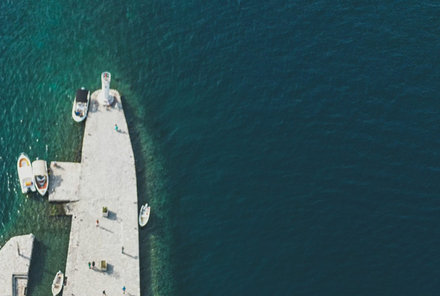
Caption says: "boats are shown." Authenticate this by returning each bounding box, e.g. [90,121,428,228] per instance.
[32,157,48,197]
[52,268,63,296]
[19,155,36,194]
[74,84,90,124]
[139,203,151,226]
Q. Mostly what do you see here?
water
